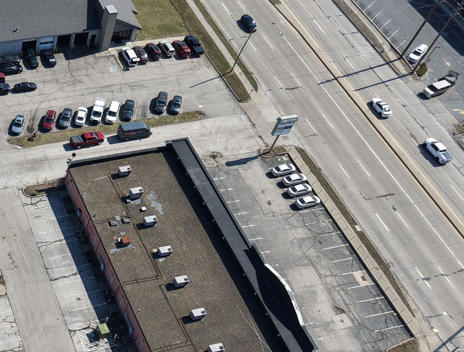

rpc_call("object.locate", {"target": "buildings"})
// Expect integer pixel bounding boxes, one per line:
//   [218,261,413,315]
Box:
[0,0,146,55]
[65,134,319,352]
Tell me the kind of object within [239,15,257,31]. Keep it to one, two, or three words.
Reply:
car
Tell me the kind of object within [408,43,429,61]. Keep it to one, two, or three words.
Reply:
car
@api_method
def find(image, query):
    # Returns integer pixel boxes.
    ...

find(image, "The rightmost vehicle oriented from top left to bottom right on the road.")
[422,139,456,164]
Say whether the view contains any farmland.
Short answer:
No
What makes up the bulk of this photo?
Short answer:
paved ground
